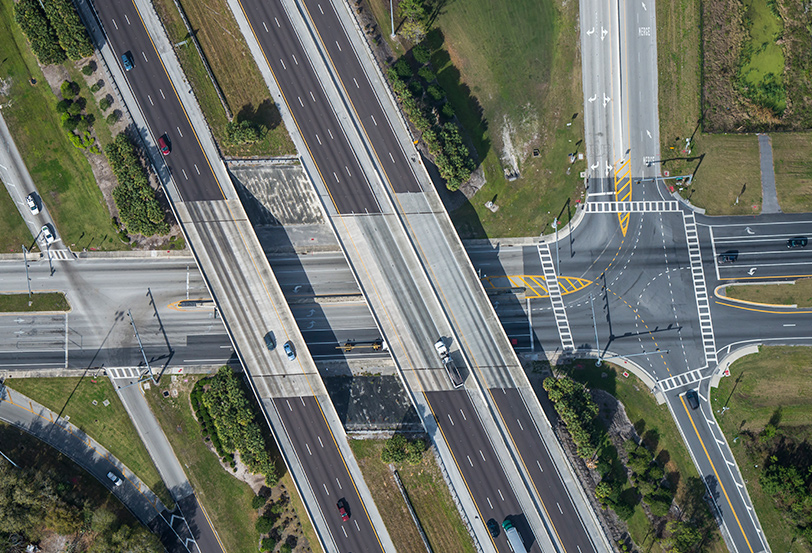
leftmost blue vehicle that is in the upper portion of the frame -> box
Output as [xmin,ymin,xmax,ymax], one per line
[121,54,133,71]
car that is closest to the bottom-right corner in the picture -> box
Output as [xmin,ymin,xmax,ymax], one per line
[686,390,699,409]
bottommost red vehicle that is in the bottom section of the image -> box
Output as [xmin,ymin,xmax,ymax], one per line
[335,501,350,523]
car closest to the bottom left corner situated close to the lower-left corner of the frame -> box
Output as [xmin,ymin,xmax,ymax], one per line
[106,470,123,487]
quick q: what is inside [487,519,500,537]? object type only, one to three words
vehicle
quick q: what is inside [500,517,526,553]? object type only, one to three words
truck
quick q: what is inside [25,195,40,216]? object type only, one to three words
vehicle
